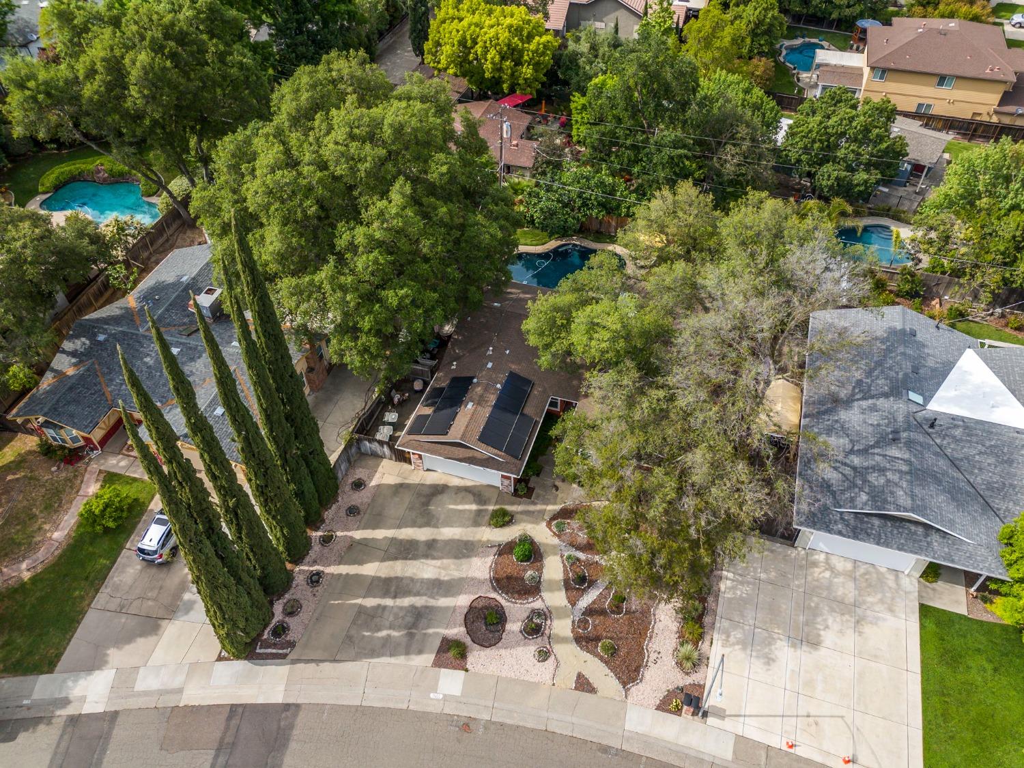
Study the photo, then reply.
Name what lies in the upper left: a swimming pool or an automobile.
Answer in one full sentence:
What appears in the upper left is a swimming pool.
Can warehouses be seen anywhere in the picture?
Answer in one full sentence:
No, the picture doesn't show any warehouse.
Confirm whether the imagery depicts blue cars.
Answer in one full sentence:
No, this view has no blue car in it.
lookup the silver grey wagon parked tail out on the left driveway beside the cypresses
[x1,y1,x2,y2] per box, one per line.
[136,501,182,563]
